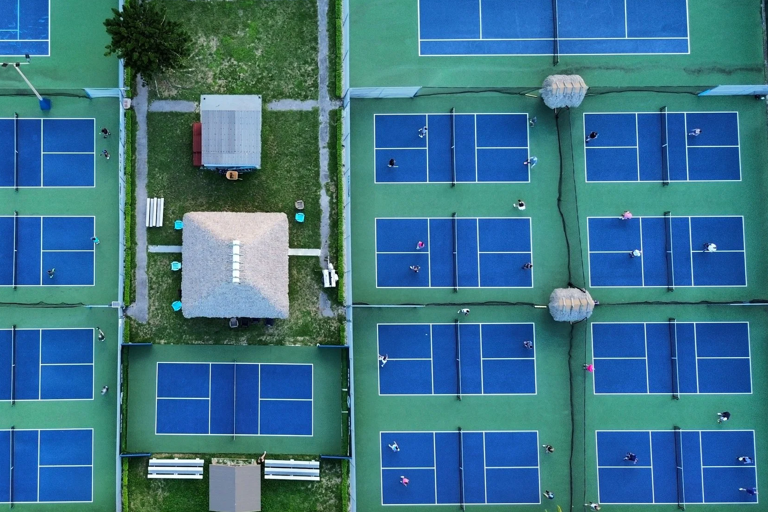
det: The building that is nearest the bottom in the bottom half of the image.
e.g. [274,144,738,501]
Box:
[209,460,261,512]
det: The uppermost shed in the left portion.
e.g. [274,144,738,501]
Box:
[200,95,262,172]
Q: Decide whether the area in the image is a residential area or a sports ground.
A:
sports ground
